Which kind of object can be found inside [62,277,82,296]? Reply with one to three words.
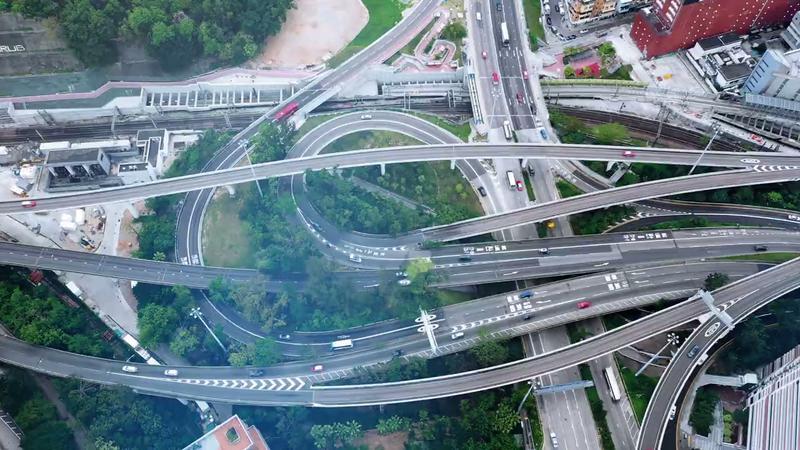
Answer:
vehicle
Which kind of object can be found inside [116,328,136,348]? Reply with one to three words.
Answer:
vehicle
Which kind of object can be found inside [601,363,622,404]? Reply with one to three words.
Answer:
bus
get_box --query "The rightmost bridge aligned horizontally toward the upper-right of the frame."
[545,84,800,130]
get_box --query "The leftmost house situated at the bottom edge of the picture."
[183,416,256,450]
